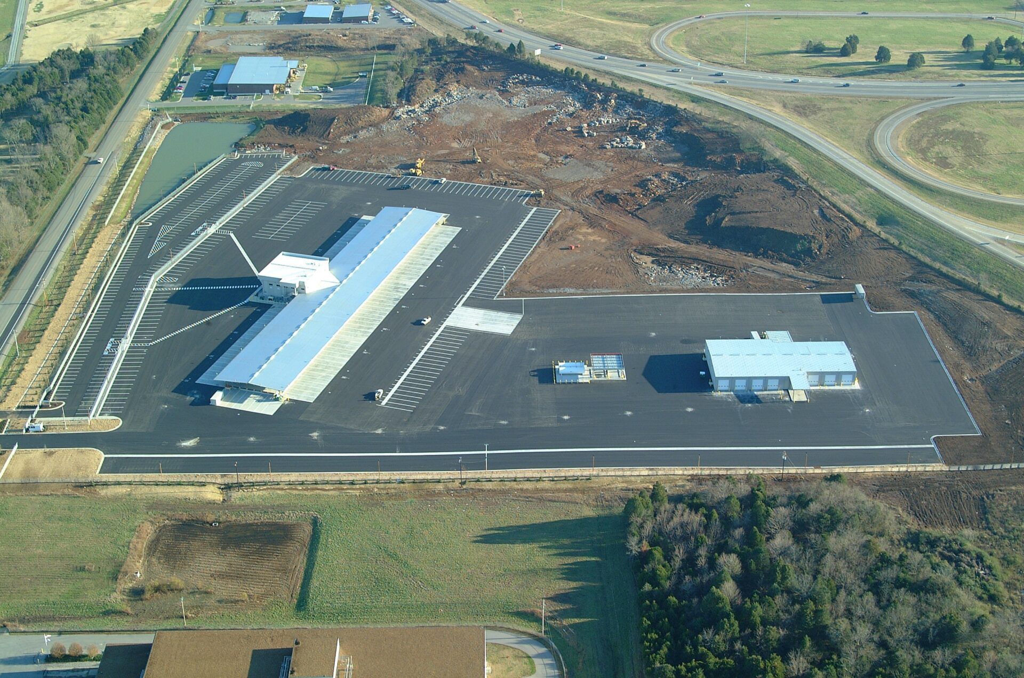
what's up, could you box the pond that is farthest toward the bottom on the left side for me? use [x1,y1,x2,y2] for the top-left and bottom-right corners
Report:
[131,124,255,221]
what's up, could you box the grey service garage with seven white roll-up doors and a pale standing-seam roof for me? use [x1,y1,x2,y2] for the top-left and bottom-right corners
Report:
[700,338,857,401]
